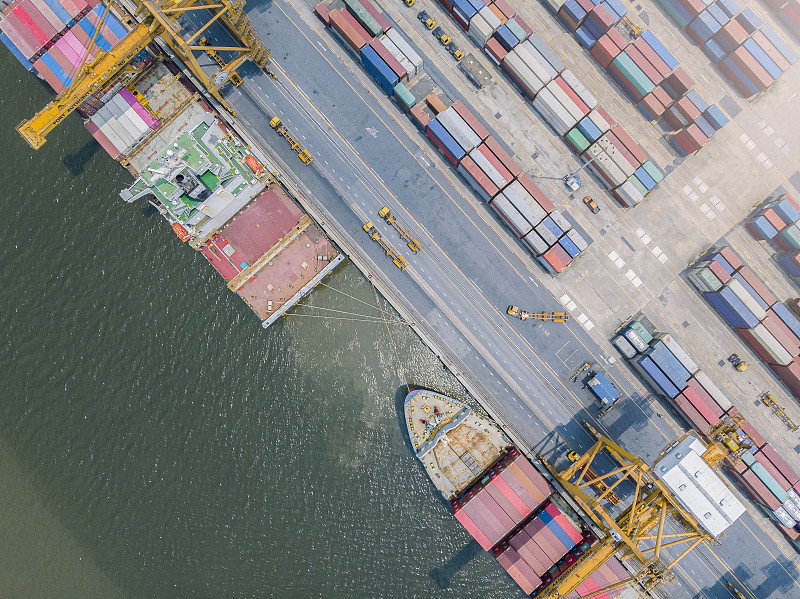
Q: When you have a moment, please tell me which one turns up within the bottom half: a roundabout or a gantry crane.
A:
gantry crane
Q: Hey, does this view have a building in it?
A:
Yes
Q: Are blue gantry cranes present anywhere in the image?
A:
No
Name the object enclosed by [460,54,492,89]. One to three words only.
shed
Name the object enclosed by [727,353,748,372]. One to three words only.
vehicle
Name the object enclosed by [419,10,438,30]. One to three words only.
vehicle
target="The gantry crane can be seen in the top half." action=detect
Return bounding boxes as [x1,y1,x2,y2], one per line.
[12,0,288,151]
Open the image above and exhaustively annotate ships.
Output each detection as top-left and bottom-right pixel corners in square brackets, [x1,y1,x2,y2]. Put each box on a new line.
[403,387,589,552]
[43,0,342,327]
